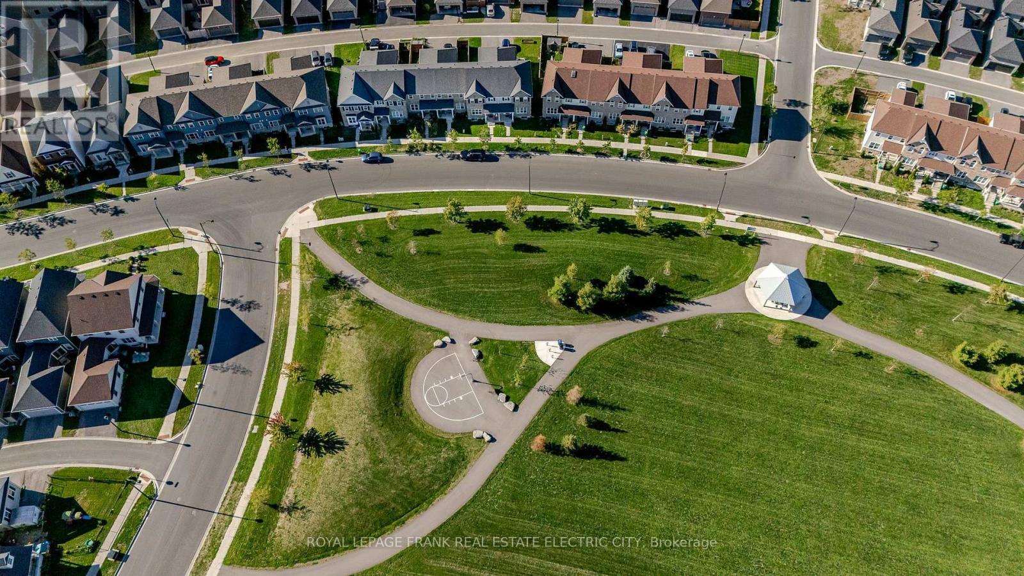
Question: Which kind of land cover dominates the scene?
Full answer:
Most of the picture is covered by grass.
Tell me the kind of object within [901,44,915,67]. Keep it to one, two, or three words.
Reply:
vehicle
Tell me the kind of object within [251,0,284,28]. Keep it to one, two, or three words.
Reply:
building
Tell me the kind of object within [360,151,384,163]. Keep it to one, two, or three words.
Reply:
vehicle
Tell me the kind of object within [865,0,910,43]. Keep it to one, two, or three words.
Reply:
house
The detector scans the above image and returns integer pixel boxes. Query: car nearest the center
[461,149,485,162]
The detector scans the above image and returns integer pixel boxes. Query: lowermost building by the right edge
[863,92,1024,212]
